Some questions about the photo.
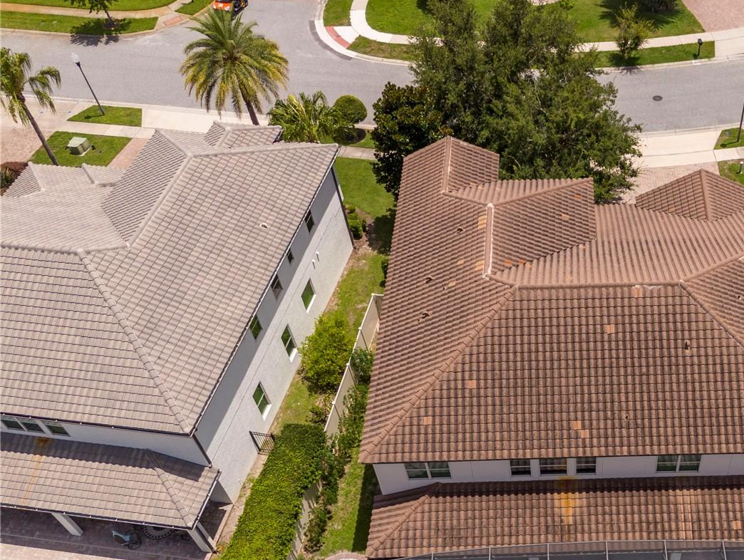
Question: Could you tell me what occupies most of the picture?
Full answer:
For the most part, this view shows buildings.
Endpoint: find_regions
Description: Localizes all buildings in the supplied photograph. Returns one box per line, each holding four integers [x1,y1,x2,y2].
[0,118,345,556]
[354,134,744,560]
